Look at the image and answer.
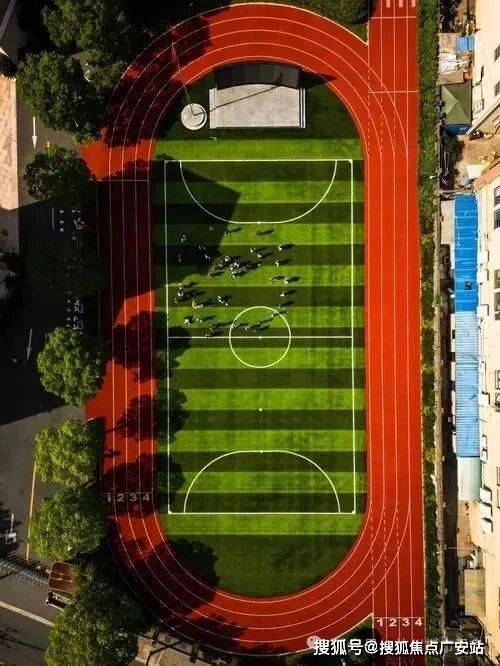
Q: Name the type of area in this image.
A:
sports ground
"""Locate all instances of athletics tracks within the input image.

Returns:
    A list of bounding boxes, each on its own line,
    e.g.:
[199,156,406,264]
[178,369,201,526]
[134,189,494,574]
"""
[81,0,426,666]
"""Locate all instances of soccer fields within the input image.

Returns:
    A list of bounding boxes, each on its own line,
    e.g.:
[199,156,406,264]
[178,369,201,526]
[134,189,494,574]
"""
[153,63,367,598]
